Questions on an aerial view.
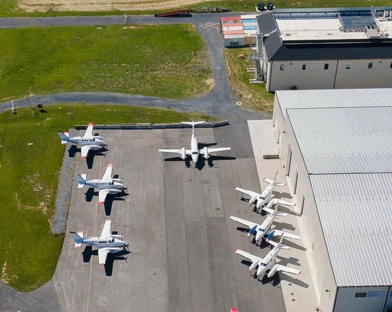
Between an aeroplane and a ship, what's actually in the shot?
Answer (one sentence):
Of the two, only an aeroplane appears.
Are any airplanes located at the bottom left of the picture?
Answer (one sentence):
Yes, the scene does show an airplane at the bottom left of the picture.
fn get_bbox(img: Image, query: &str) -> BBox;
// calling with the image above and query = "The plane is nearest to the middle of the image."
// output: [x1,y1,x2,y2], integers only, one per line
[157,123,233,166]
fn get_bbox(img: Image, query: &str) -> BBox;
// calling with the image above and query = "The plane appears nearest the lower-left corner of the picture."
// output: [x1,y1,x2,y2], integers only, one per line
[73,217,130,267]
